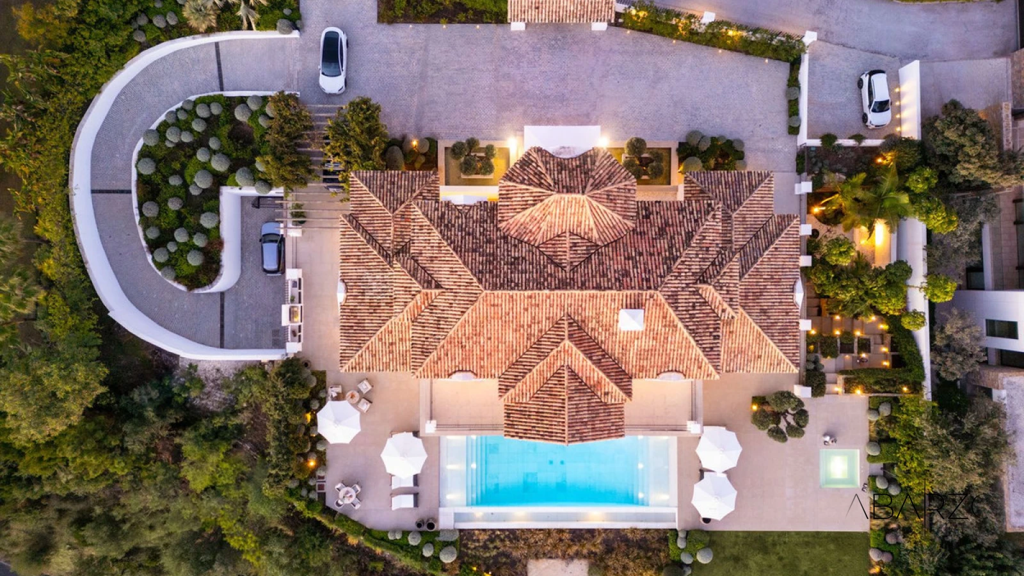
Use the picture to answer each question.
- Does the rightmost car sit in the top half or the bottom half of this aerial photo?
top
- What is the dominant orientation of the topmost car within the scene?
from top to bottom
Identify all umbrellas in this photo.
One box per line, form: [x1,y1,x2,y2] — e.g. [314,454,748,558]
[380,432,427,479]
[317,401,360,444]
[695,426,742,473]
[692,473,737,519]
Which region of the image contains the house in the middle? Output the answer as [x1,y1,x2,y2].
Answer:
[338,125,802,447]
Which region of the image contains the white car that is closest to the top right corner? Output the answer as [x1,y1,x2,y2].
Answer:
[852,70,892,130]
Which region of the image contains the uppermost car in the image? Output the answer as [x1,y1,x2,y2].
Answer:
[315,29,351,99]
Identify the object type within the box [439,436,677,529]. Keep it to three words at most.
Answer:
swimming pool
